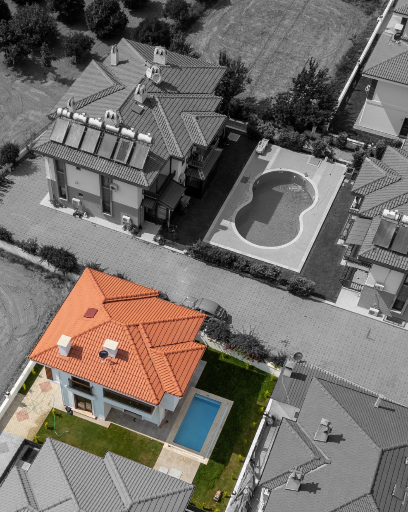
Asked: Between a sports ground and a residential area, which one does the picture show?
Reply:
residential area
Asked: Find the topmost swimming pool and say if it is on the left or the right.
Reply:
right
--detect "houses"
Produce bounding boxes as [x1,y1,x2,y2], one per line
[256,375,408,512]
[33,38,236,242]
[0,436,196,512]
[346,23,408,141]
[28,265,208,429]
[333,133,408,330]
